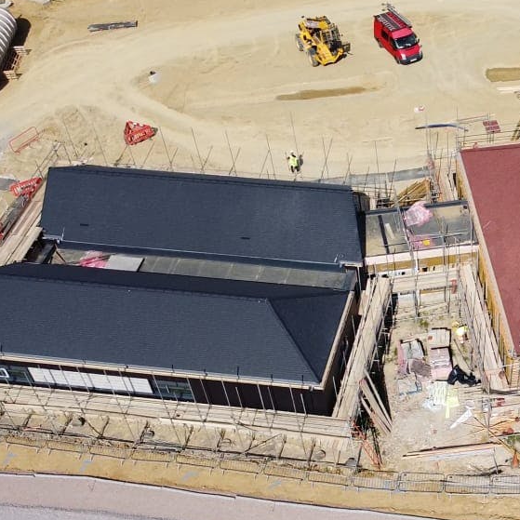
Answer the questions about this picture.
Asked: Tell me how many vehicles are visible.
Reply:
two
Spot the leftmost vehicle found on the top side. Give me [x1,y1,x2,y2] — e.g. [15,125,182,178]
[295,17,343,73]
